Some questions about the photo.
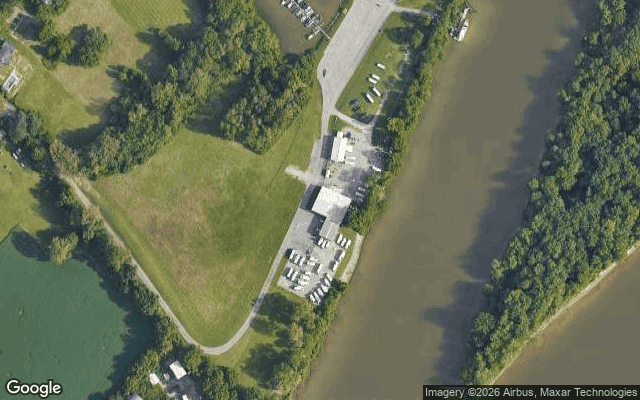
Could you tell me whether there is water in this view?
Yes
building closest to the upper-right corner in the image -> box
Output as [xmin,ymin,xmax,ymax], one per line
[331,131,352,162]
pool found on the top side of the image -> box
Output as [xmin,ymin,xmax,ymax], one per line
[2,71,21,91]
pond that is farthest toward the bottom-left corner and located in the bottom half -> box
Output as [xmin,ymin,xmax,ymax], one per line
[0,226,151,400]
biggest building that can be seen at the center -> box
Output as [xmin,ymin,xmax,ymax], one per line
[311,186,352,224]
